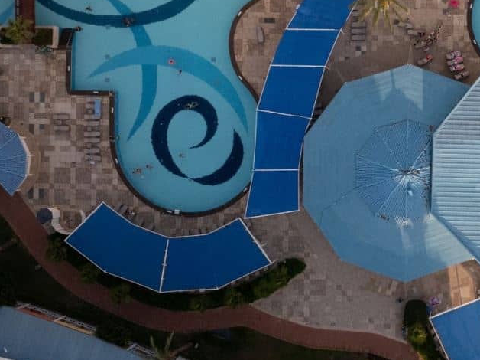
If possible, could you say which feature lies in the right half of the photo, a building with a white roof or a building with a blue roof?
building with a blue roof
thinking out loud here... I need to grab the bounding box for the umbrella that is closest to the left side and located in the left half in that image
[36,207,54,224]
